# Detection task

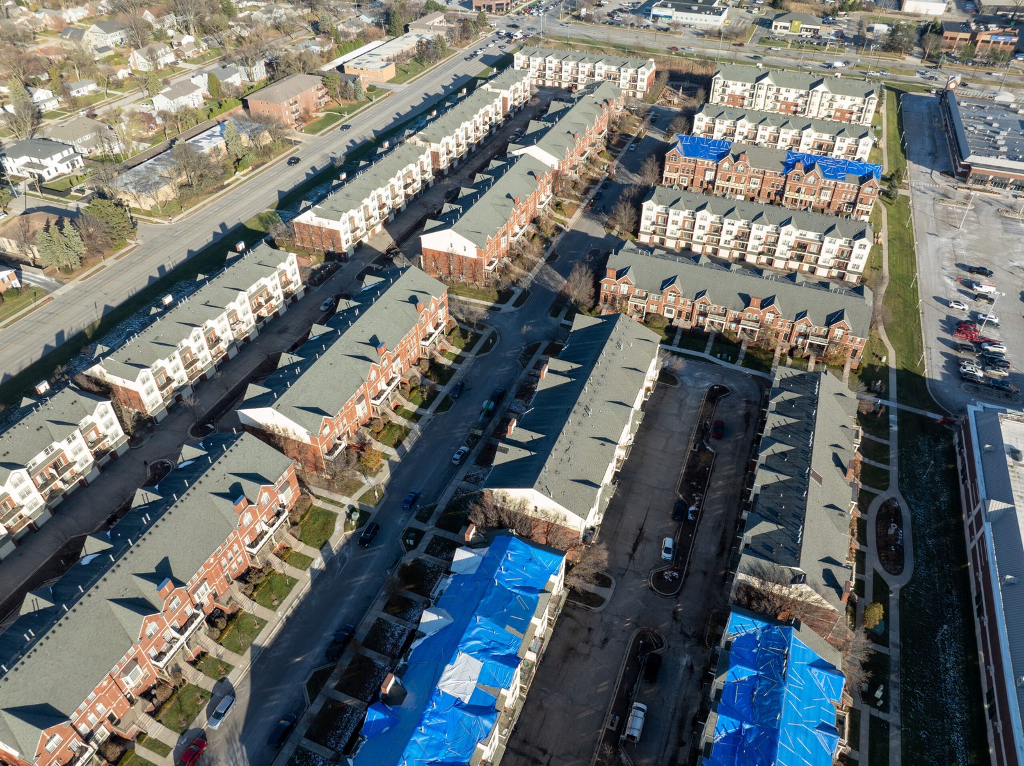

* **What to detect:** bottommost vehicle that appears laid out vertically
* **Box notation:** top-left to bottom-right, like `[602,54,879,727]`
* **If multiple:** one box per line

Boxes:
[623,700,649,744]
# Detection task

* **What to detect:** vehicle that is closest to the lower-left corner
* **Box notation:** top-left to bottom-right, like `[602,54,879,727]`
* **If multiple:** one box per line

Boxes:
[173,732,208,766]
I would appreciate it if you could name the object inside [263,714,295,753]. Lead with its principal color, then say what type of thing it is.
black car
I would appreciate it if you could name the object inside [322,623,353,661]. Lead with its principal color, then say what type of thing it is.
black truck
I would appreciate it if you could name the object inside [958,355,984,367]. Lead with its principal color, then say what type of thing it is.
gray vehicle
